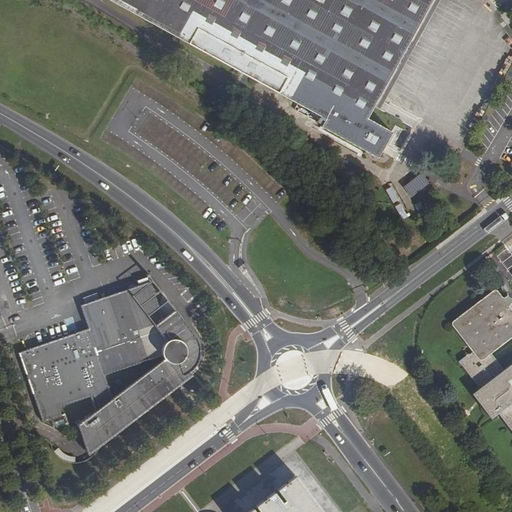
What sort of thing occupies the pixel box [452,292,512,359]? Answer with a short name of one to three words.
building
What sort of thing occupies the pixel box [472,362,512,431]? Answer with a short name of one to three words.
building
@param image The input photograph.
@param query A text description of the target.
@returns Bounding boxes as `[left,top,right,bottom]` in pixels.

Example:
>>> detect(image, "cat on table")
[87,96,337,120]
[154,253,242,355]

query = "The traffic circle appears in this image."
[226,308,362,444]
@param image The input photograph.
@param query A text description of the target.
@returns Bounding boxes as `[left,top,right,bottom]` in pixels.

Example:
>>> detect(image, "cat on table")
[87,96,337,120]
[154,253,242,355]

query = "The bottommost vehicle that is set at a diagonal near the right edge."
[484,214,508,233]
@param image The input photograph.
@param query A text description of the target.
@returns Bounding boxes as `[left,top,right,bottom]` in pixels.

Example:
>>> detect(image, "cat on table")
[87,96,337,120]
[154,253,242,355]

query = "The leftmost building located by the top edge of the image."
[115,0,438,160]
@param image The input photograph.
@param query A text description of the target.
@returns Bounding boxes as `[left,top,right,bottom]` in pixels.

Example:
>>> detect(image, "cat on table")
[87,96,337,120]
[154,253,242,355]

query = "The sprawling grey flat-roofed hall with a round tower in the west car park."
[20,271,203,454]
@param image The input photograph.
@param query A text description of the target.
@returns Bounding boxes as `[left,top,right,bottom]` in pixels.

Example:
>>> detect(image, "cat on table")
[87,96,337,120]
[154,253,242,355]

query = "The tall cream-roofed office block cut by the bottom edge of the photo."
[252,474,328,512]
